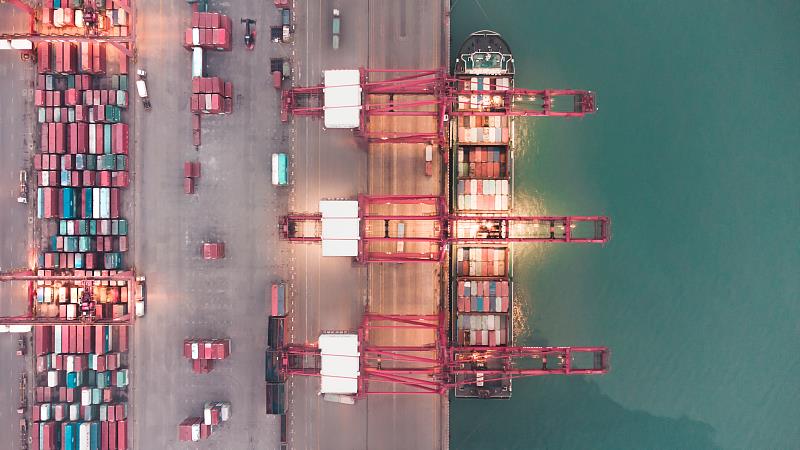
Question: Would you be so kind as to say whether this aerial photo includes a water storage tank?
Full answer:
No, this view has no water storage tank in it.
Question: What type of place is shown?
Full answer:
What you see here is a port.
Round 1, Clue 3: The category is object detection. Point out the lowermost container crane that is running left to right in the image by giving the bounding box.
[280,303,613,398]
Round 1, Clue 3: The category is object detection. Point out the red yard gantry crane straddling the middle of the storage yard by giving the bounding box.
[0,268,135,330]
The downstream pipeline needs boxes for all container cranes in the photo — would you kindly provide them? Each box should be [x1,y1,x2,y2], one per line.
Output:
[0,0,135,59]
[280,69,600,160]
[0,268,135,330]
[280,194,613,264]
[280,303,613,398]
